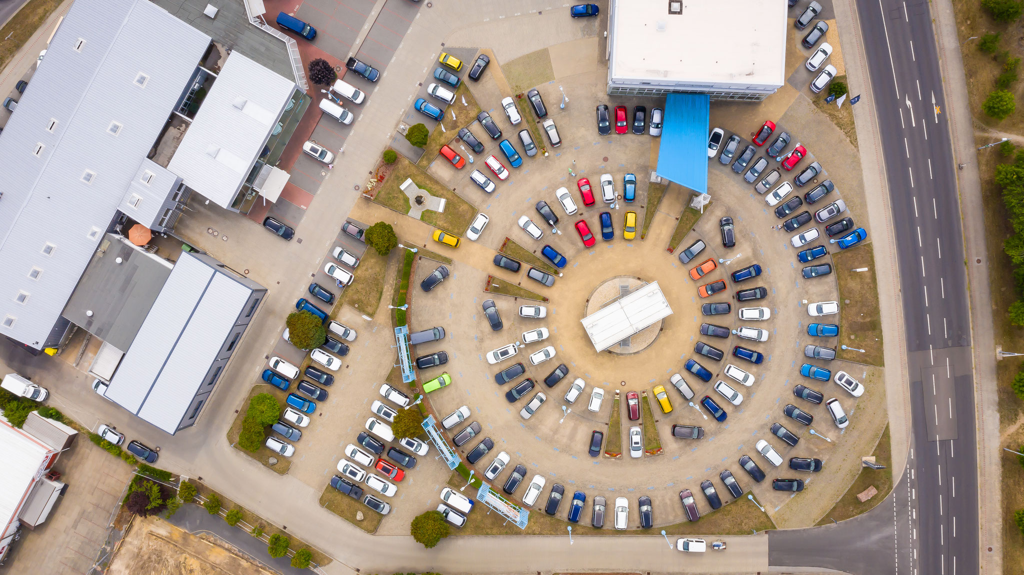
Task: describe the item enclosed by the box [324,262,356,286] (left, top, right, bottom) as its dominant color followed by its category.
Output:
white car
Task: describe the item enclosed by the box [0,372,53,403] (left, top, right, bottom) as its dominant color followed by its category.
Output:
white truck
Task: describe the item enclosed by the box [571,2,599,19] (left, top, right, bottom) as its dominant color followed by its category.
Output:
blue car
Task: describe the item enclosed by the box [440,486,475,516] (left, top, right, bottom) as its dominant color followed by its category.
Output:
white vehicle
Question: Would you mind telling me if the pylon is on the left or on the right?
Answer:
right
